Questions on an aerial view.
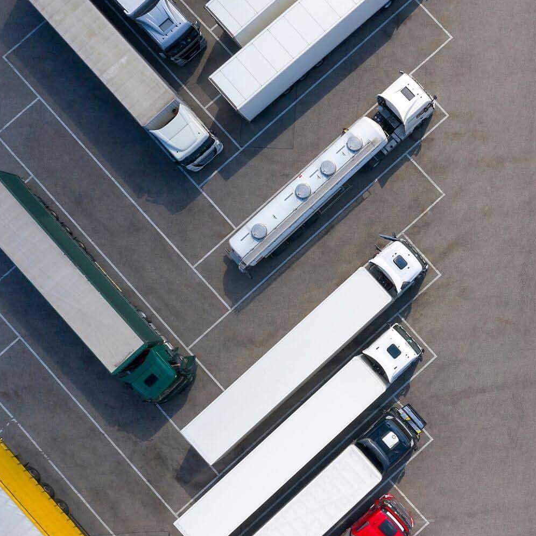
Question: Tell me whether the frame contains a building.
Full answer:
No, I can see no building in this picture.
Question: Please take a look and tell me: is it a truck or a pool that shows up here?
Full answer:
I can see a truck in this picture.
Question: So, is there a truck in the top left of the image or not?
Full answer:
Yes, a truck shows up in the top left of the image.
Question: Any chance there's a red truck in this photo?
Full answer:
Yes, there's a red truck here.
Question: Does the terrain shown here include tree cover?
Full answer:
No, the scene doesn't show any tree cover.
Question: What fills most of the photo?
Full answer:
The scene is dominated by paved ground.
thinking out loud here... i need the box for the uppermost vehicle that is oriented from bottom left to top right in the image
[209,0,392,123]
